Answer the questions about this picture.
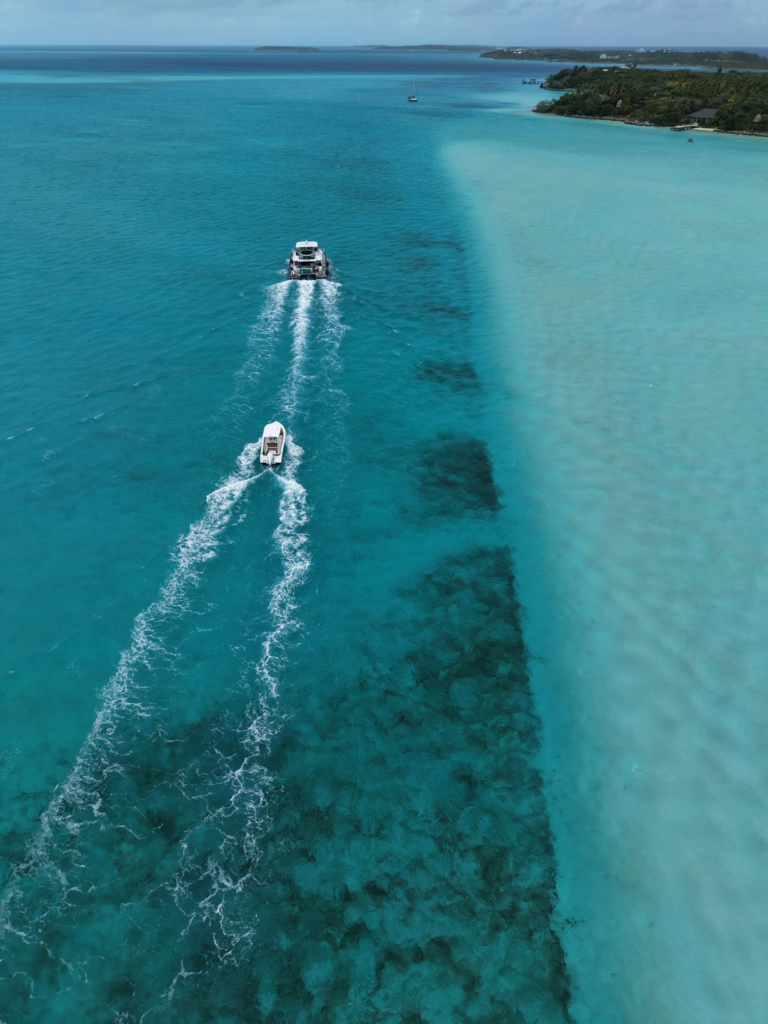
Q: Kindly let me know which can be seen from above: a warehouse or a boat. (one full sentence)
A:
Looking from above, you can make out a boat.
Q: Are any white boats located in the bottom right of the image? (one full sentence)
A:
No, no white boat is visible in the bottom right of the image.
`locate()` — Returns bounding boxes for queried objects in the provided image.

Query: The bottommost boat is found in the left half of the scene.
[261,423,287,470]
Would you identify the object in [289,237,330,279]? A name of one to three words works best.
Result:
boat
